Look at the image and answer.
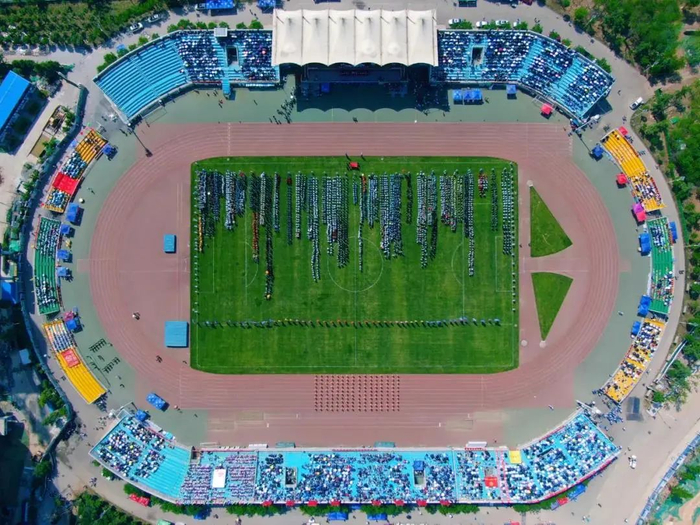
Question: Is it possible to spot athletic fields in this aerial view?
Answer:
Yes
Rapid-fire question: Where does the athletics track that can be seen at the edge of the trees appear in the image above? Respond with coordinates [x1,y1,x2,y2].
[77,123,631,446]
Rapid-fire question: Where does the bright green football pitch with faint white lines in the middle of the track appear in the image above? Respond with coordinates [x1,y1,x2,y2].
[191,157,518,375]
